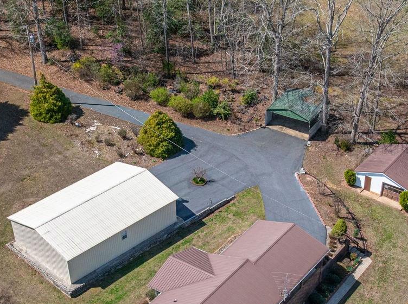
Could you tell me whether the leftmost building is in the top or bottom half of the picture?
bottom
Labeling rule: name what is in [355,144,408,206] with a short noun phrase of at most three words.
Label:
building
